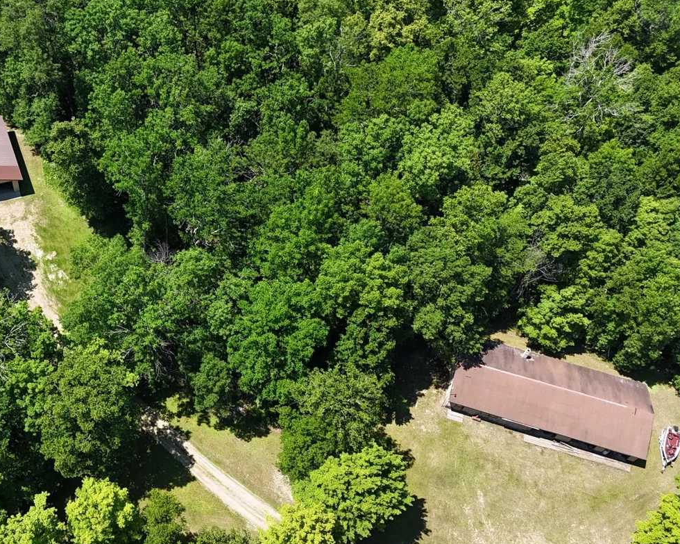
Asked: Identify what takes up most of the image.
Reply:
trees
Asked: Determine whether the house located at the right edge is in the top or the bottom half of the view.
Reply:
bottom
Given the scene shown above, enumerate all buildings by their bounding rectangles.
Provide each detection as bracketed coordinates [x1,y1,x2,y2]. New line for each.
[448,338,654,461]
[0,119,23,203]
